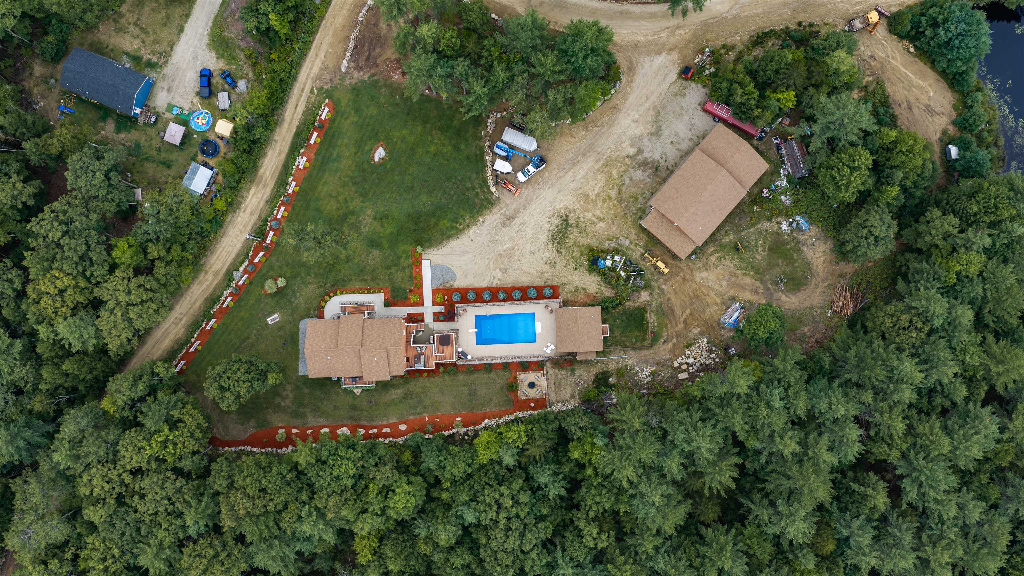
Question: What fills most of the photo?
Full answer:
The scene is dominated by trees.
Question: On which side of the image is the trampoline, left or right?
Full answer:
The trampoline is on the left side of the image.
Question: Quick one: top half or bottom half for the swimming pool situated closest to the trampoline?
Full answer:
Seen from above, the swimming pool situated closest to the trampoline lies in the top half of the view.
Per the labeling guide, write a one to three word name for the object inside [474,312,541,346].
swimming pool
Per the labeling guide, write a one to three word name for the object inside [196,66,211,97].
vehicle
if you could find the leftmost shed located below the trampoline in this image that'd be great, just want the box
[183,162,217,195]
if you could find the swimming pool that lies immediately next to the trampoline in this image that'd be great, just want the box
[189,105,212,132]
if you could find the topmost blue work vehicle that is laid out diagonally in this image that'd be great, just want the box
[217,67,239,90]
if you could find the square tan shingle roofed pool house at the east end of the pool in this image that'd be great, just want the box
[555,306,609,361]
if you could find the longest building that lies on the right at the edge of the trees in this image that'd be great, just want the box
[639,123,769,260]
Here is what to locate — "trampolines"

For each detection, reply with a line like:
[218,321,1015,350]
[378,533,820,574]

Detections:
[195,137,219,157]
